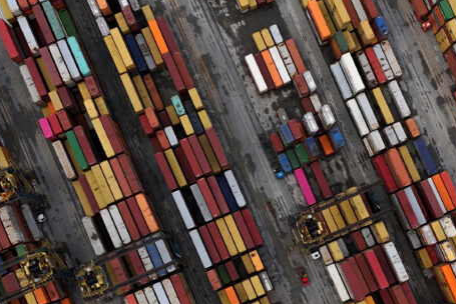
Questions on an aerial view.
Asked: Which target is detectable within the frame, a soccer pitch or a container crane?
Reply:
container crane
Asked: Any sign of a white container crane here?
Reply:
No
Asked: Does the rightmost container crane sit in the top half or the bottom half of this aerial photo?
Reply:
bottom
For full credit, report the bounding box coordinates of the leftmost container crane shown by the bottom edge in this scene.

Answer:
[0,234,82,303]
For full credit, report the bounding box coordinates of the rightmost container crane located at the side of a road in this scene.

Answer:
[280,174,401,253]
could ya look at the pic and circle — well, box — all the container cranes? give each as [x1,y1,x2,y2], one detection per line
[0,234,82,303]
[69,221,191,304]
[0,163,53,207]
[280,174,401,253]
